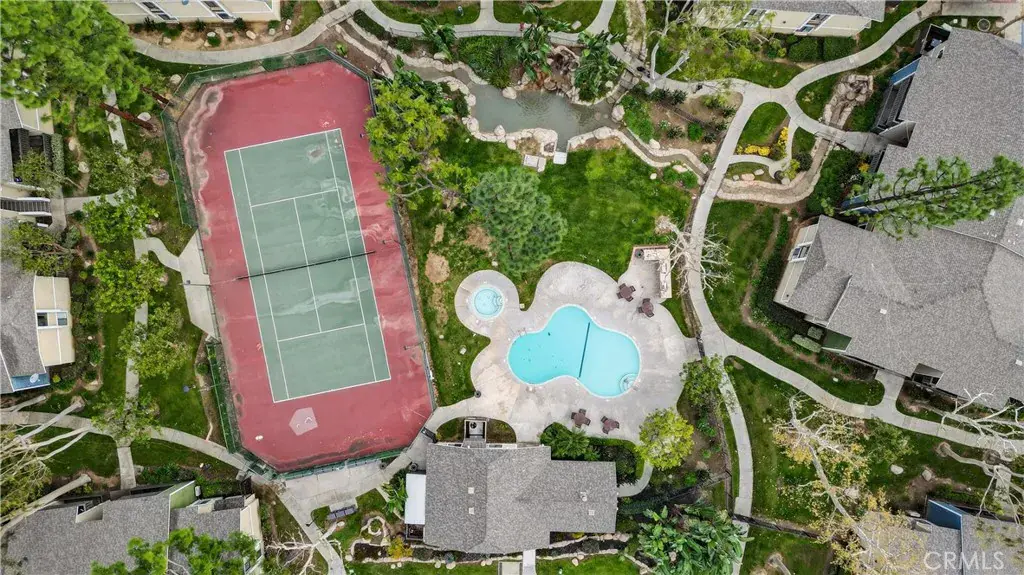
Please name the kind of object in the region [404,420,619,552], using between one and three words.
building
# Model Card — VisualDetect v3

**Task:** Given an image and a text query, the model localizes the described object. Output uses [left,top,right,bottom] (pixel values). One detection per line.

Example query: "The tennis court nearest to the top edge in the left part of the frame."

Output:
[177,60,431,472]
